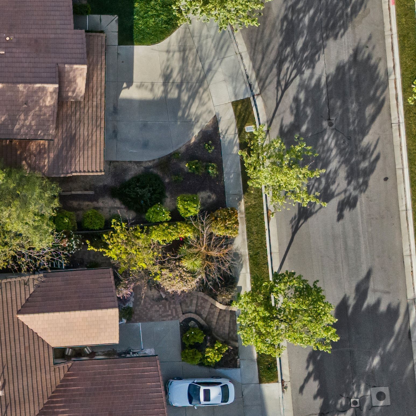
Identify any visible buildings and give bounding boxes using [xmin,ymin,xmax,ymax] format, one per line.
[0,264,169,416]
[0,0,107,178]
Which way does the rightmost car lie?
from side to side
